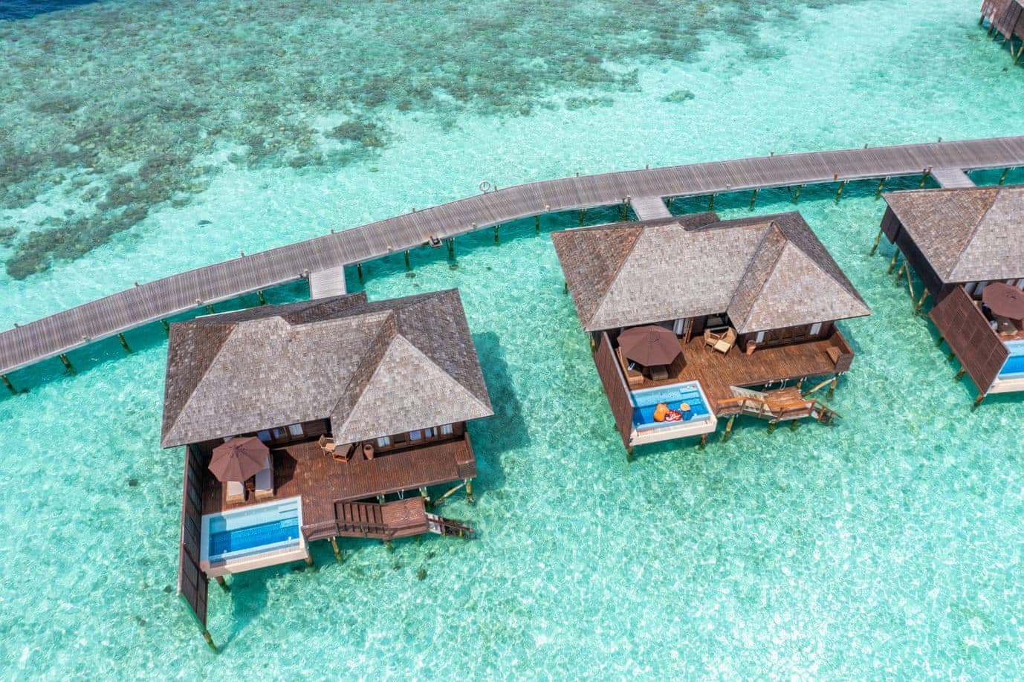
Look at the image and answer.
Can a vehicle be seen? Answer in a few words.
No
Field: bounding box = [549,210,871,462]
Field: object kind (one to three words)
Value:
house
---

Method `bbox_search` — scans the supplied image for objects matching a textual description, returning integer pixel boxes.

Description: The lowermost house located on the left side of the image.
[160,286,494,640]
